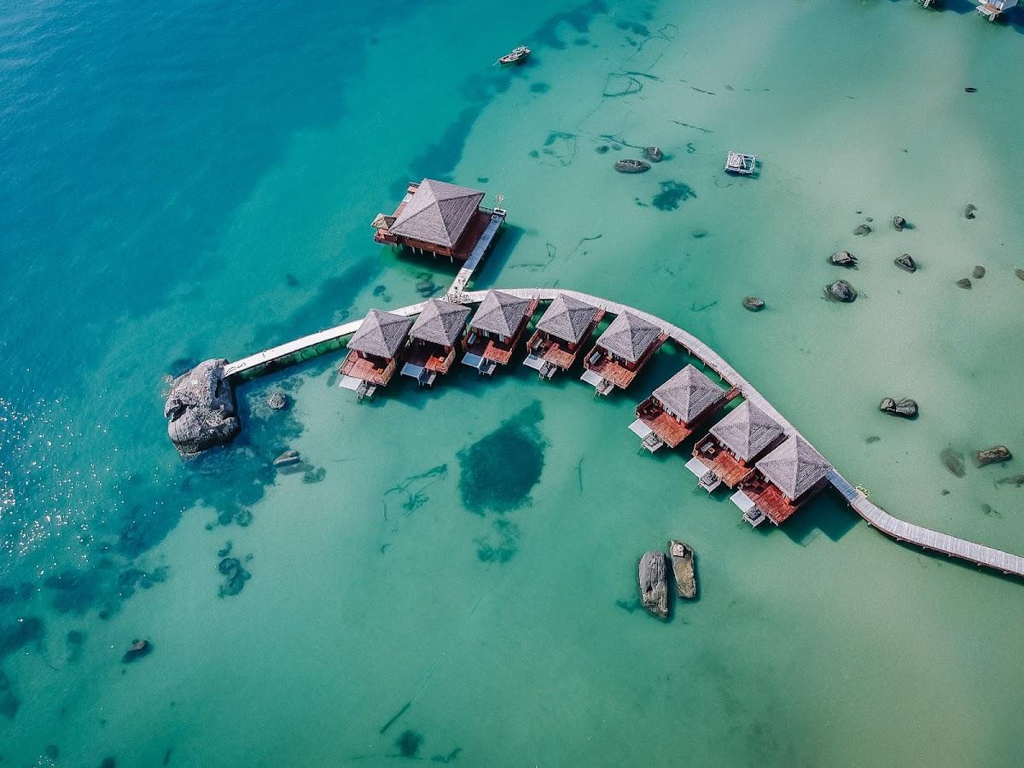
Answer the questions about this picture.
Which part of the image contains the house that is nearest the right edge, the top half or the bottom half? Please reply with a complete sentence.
Seen from above, the house that is nearest the right edge lies in the top half of the view.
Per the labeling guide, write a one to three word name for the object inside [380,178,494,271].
building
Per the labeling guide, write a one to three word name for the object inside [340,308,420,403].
house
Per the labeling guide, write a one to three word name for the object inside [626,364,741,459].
house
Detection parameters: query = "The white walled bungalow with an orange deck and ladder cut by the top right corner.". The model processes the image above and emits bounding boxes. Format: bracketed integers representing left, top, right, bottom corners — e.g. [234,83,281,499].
[966,0,1007,29]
